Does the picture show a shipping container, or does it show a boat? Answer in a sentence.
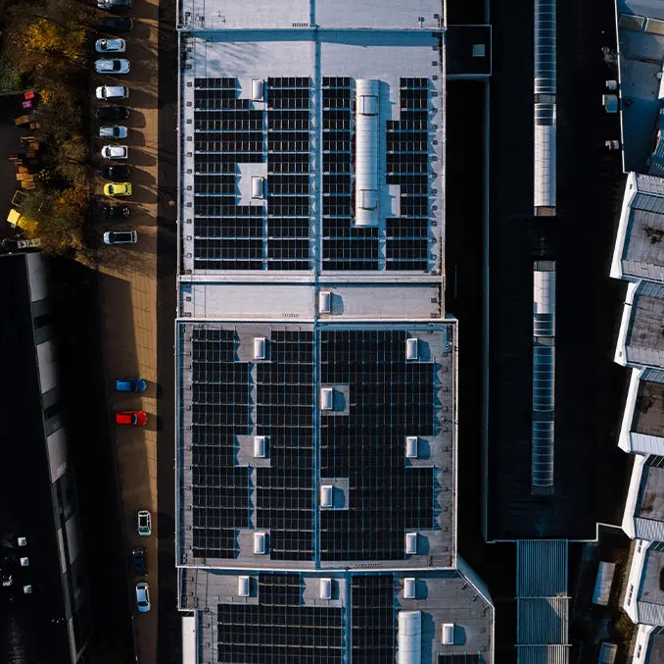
I can see a shipping container in this picture.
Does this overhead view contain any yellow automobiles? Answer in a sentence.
Yes, this view includes a yellow automobile.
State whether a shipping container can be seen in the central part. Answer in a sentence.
No, in the central part there is no shipping container.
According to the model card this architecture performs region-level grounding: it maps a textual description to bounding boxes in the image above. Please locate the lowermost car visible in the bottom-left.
[134,577,152,612]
